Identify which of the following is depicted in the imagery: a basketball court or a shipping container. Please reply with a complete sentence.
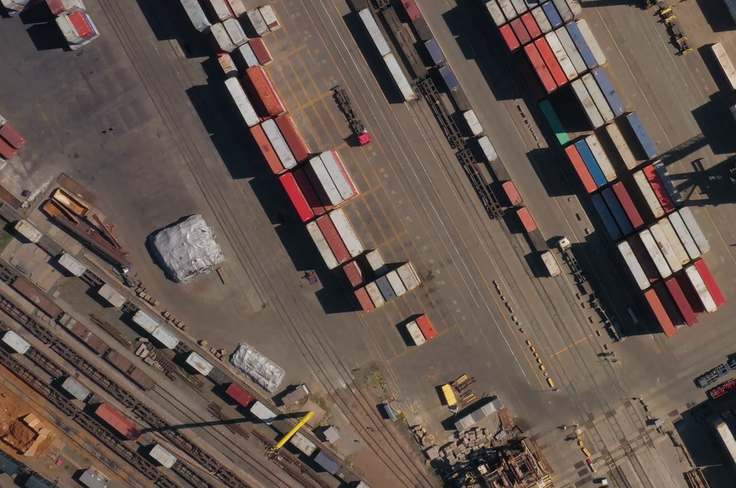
I can see a shipping container in this picture.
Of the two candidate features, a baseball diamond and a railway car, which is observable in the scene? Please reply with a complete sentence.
I can see a railway car in this picture.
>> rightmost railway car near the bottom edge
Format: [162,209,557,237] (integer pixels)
[315,453,357,488]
